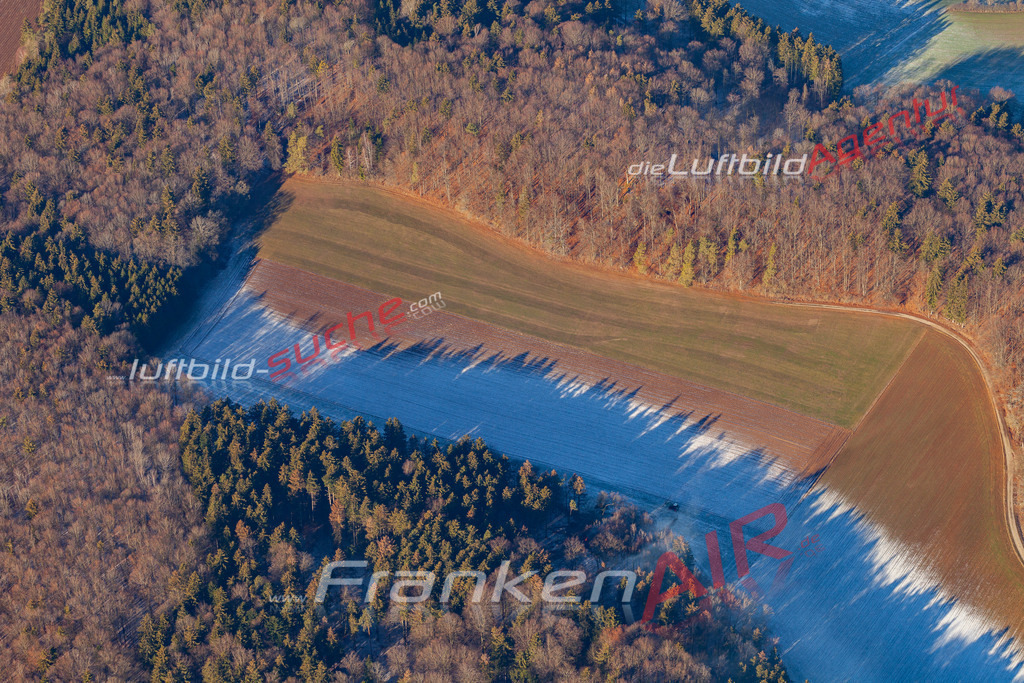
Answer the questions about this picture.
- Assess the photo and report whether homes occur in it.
No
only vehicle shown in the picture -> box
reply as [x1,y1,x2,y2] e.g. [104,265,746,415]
[664,500,679,512]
